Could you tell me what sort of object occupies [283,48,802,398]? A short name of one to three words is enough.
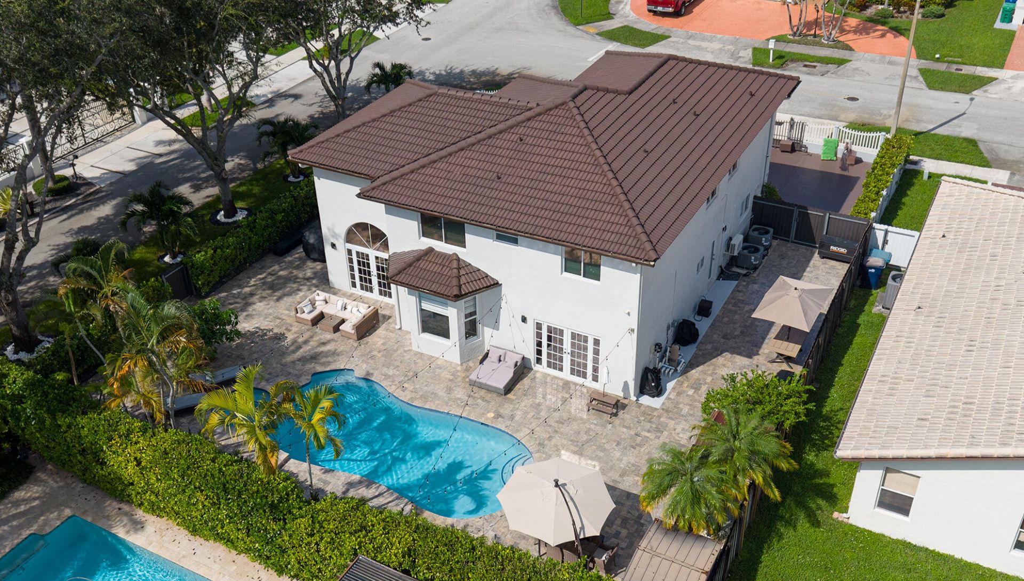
house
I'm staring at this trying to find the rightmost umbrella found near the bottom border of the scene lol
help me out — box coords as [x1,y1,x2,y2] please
[496,459,618,573]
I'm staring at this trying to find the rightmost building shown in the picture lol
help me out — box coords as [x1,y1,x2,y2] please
[833,165,1024,569]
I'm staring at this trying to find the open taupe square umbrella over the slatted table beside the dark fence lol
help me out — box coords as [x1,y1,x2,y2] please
[753,276,834,337]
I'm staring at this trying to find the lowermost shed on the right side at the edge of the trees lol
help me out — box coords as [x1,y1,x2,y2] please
[618,524,724,581]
